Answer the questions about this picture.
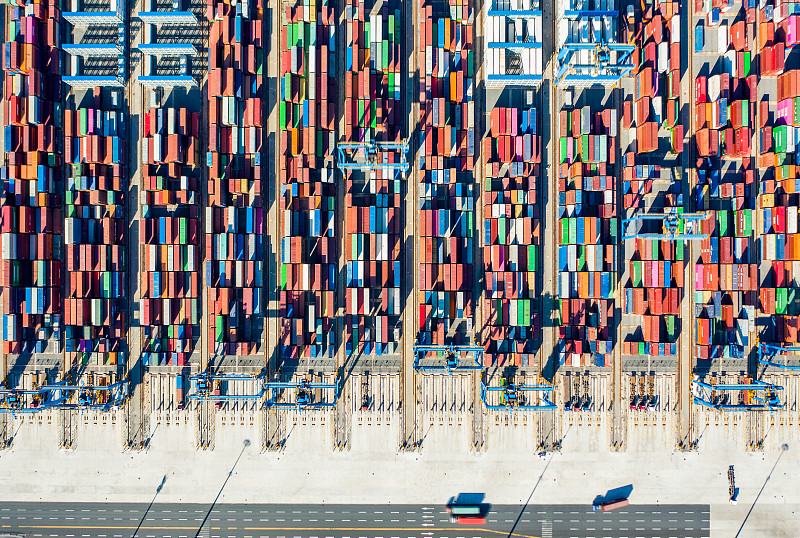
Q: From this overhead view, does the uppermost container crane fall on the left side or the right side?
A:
right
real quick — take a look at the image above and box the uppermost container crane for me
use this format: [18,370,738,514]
[551,37,631,88]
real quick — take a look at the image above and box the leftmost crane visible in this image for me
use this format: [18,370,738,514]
[0,370,66,416]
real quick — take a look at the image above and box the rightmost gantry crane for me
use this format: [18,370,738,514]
[755,334,800,371]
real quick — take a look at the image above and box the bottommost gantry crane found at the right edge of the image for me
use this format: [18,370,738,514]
[690,370,783,416]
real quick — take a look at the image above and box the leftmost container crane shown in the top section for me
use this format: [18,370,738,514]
[338,137,410,182]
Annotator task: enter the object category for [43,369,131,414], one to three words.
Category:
container crane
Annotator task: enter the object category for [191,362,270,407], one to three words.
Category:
container crane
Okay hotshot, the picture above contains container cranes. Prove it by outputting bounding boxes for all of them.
[43,369,131,414]
[755,334,800,371]
[616,208,703,248]
[0,370,66,416]
[480,371,558,417]
[690,370,783,416]
[191,362,270,407]
[338,137,410,182]
[413,333,487,376]
[267,369,341,415]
